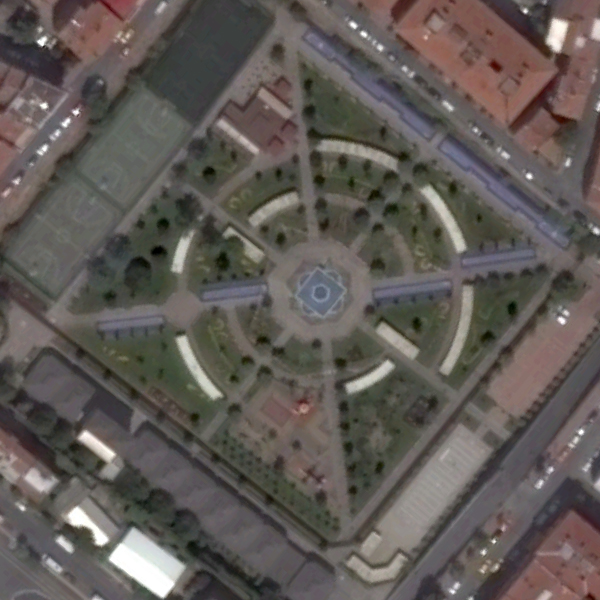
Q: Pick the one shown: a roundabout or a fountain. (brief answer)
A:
fountain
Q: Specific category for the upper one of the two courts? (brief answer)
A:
basketball court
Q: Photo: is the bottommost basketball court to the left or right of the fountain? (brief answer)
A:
left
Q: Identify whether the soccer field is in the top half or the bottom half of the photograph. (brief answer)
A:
top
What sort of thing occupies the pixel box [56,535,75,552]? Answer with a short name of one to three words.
vehicle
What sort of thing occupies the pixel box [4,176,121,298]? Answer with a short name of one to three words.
basketball court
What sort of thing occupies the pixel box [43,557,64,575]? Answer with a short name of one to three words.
vehicle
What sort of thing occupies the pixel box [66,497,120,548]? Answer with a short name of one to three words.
building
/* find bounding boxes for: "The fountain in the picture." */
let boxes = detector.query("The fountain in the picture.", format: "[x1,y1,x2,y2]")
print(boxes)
[296,268,346,318]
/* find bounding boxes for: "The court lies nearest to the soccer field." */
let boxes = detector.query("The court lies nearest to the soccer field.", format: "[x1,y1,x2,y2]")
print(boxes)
[74,84,192,212]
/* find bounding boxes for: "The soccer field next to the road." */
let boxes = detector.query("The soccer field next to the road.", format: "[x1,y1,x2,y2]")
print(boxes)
[140,0,272,122]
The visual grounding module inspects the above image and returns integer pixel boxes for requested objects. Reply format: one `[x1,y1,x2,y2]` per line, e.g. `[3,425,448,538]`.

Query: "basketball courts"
[4,176,121,298]
[74,84,192,212]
